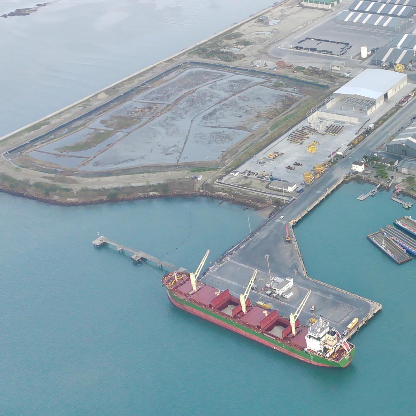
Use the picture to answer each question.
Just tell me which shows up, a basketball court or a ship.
ship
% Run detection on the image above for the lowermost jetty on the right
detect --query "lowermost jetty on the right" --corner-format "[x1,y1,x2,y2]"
[198,223,382,339]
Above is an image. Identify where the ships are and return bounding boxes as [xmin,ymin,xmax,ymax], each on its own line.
[368,229,411,265]
[394,214,416,237]
[167,248,358,369]
[381,226,416,255]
